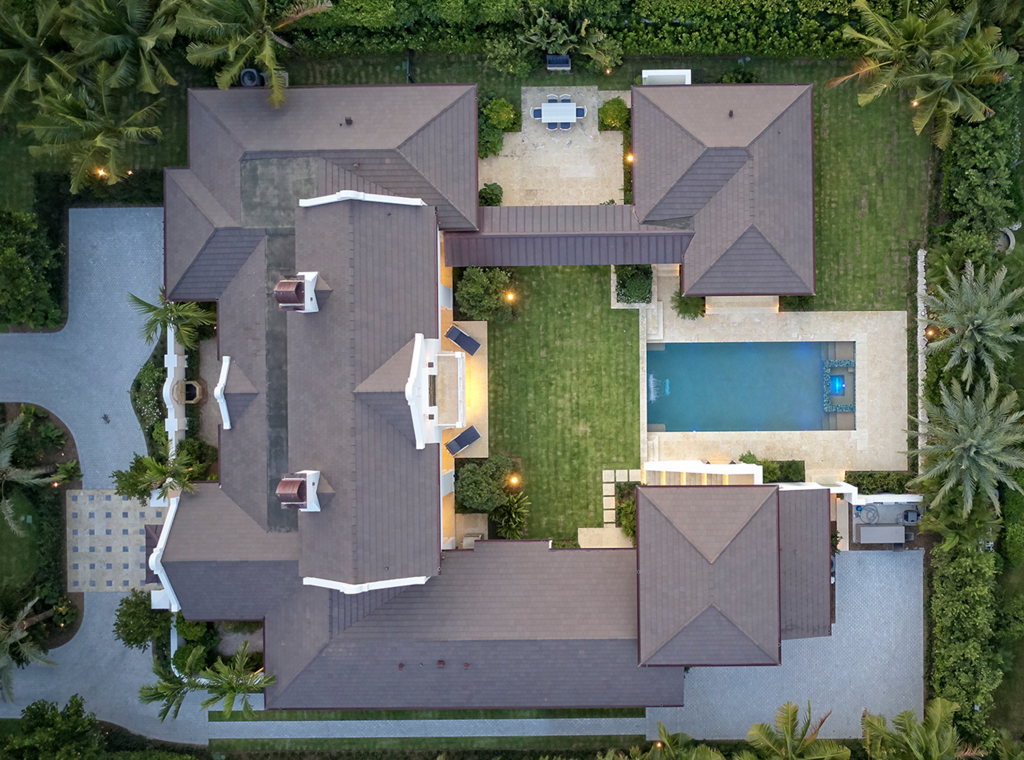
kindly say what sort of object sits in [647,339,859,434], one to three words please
swimming pool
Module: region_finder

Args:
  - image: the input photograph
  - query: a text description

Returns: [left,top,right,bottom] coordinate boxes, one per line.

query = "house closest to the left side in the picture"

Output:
[145,81,685,713]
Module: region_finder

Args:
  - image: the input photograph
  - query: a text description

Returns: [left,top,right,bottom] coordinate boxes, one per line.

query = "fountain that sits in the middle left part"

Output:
[169,377,207,407]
